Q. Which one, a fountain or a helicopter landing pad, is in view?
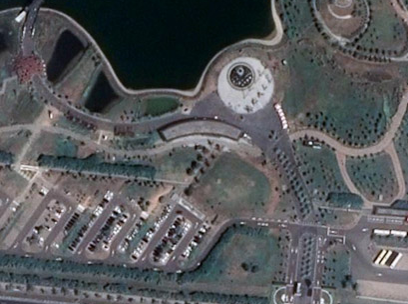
fountain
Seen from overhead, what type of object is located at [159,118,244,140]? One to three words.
building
